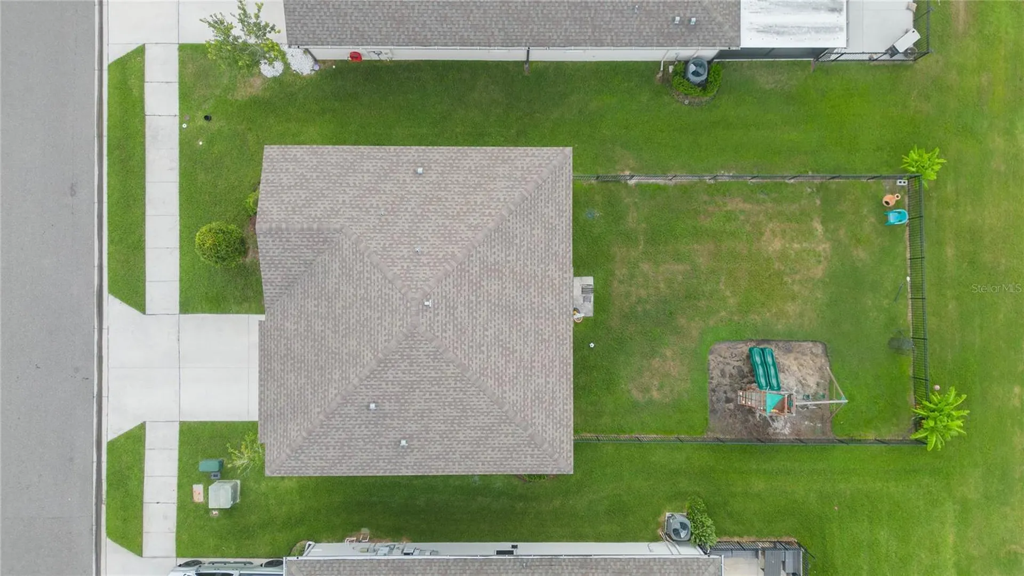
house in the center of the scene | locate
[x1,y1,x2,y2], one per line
[255,145,573,476]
